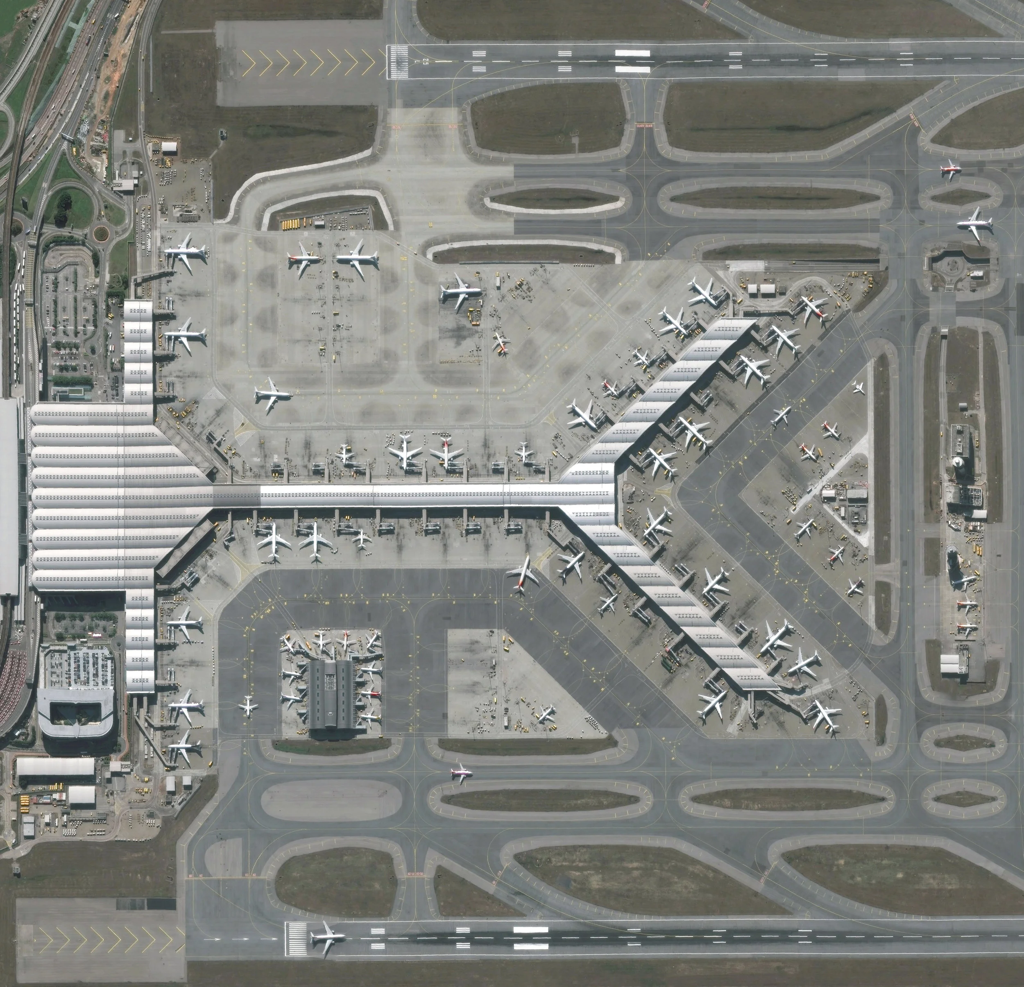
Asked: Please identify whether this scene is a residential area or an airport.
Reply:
airport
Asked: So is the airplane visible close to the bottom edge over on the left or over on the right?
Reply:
left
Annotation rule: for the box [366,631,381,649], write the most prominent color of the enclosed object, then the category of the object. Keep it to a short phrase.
white airplane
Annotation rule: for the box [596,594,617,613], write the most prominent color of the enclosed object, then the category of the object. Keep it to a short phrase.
white airplane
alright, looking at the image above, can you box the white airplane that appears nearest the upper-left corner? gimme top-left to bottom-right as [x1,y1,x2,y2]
[164,233,205,269]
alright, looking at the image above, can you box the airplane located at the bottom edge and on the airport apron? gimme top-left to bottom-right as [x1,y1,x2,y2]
[310,919,345,953]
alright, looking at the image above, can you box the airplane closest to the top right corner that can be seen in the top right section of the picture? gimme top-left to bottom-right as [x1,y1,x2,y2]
[940,159,961,178]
